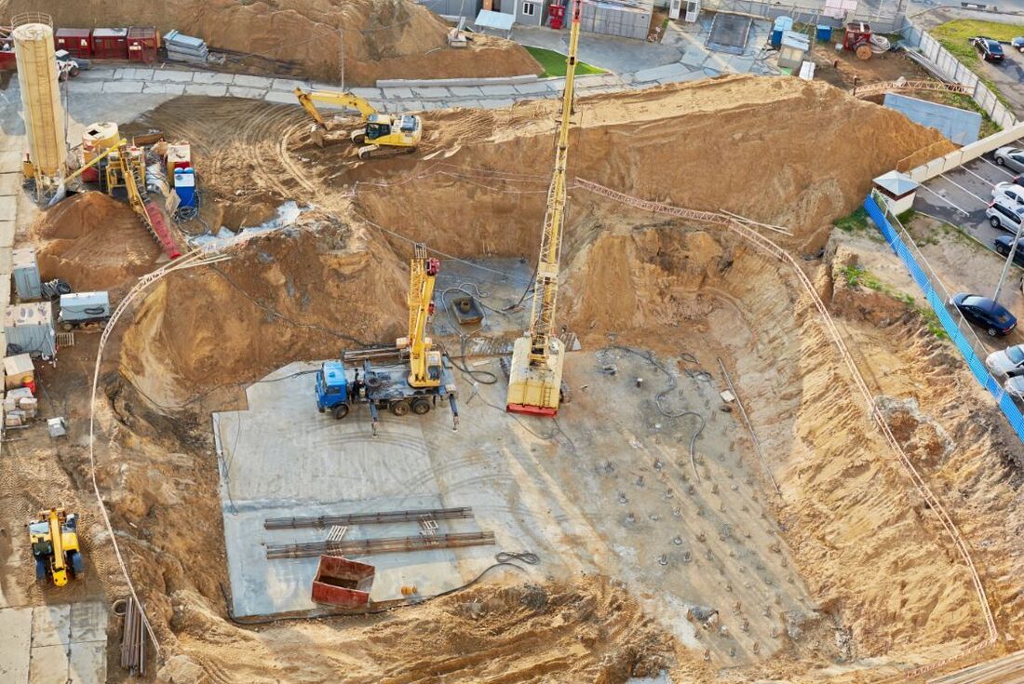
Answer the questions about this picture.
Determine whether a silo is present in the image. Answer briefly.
Yes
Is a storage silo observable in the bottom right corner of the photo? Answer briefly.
No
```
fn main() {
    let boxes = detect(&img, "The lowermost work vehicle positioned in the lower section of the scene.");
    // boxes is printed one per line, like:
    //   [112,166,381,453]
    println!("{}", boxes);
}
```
[25,496,85,580]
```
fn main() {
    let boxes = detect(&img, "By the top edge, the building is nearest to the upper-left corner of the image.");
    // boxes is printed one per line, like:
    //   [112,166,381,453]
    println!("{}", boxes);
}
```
[52,23,94,61]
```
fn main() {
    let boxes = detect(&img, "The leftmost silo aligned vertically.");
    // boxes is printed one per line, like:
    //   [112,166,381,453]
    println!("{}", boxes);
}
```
[5,6,68,190]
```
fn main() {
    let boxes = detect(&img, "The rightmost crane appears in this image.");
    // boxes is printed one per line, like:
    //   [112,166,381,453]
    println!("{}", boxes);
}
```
[506,0,587,417]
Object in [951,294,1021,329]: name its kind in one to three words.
car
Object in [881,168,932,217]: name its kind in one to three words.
shed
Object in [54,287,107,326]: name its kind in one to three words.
trailer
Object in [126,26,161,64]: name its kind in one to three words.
building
